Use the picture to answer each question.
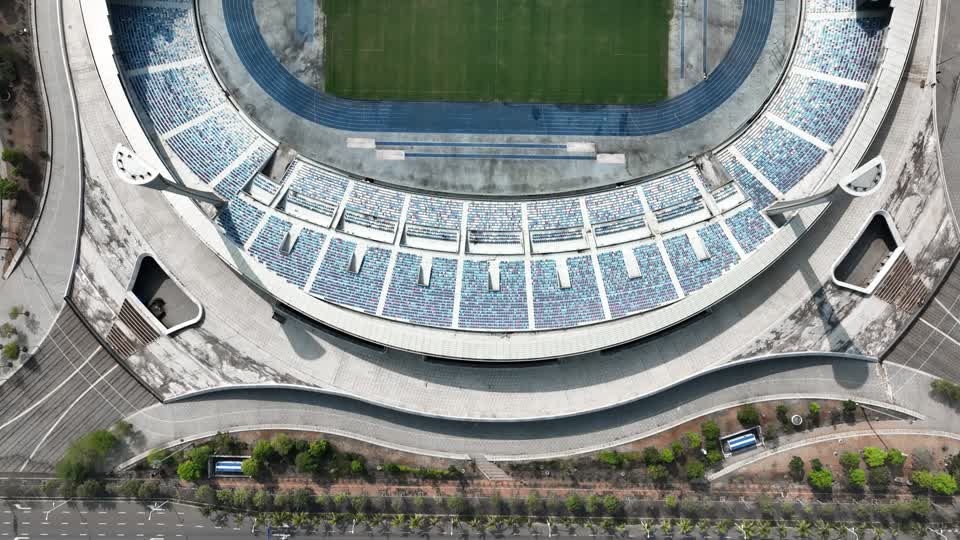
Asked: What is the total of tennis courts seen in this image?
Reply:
0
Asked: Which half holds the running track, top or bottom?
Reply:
top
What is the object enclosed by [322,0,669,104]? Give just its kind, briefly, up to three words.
soccer field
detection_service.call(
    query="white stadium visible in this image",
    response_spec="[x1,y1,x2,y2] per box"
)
[78,0,922,361]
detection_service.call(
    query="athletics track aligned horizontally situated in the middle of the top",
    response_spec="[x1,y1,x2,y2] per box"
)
[222,0,774,136]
